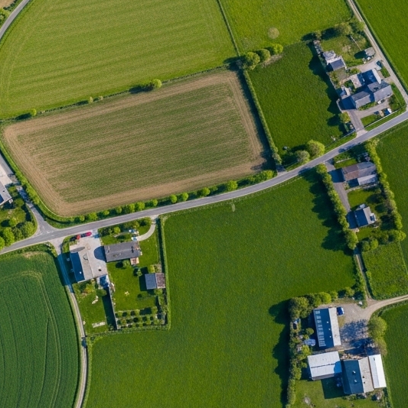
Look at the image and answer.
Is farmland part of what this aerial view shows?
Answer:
Yes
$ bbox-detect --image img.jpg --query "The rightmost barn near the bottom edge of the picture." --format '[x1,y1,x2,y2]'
[340,351,386,394]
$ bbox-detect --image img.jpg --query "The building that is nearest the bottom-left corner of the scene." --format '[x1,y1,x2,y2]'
[66,247,102,281]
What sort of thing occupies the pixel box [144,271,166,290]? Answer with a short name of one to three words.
barn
